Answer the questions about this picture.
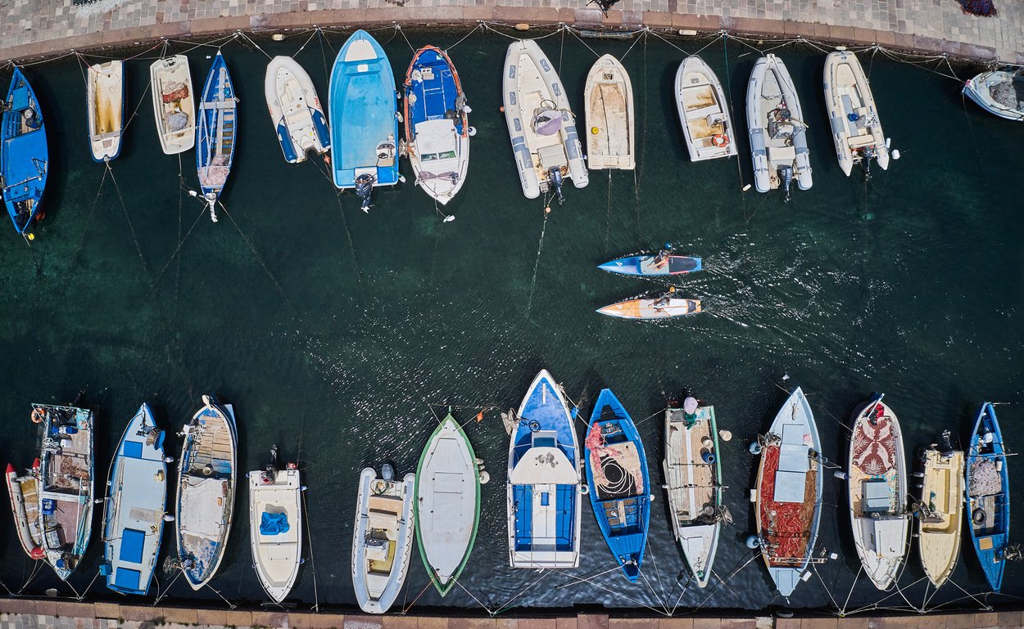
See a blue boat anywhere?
Yes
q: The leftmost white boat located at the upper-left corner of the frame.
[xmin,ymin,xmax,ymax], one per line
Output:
[88,61,128,162]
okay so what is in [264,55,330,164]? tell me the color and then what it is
white boat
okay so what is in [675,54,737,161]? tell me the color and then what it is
white boat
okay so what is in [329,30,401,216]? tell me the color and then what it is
blue boat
